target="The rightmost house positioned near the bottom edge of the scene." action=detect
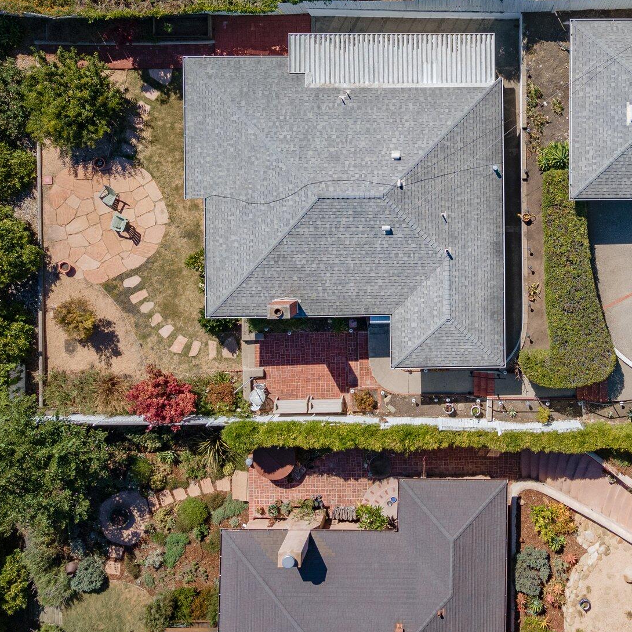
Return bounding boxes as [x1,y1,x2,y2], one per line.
[216,474,511,632]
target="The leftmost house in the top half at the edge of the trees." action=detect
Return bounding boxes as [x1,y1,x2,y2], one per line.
[180,32,508,371]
